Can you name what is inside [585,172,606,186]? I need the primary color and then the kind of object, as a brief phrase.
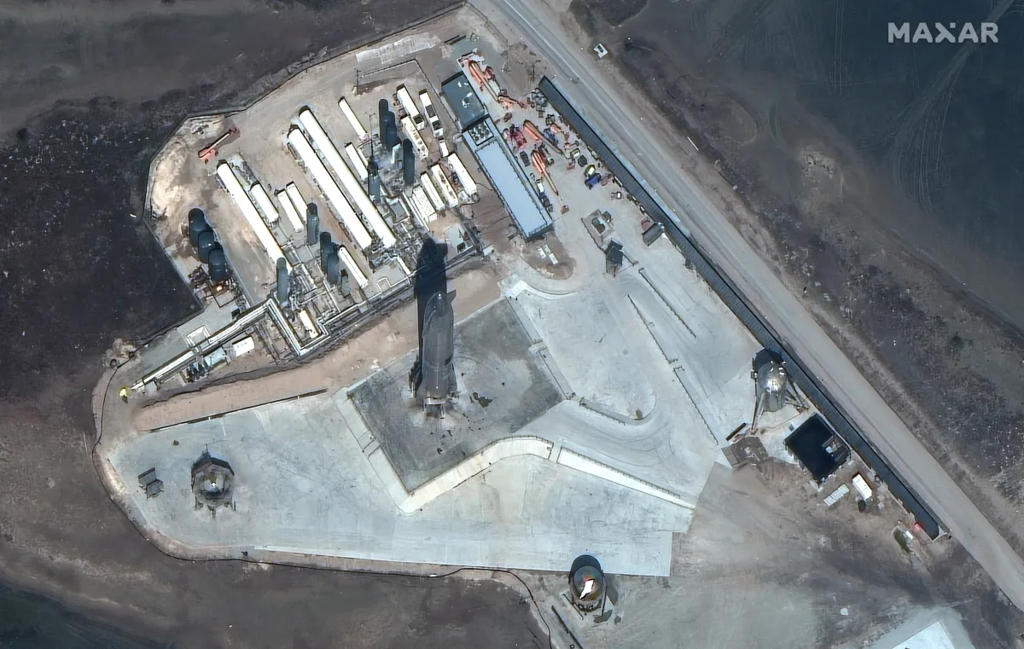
blue work vehicle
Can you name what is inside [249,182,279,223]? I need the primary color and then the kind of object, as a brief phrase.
white storage tank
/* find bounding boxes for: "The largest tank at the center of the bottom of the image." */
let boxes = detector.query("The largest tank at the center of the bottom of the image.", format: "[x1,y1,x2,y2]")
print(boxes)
[569,570,607,613]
